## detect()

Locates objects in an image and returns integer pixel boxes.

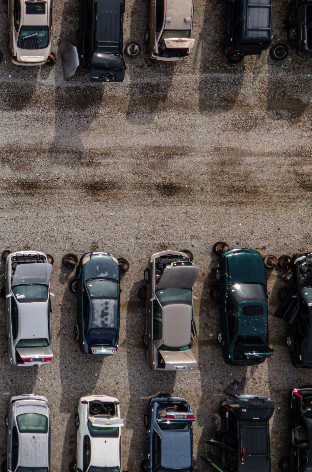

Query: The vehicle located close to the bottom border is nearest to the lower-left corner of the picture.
[5,394,56,472]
